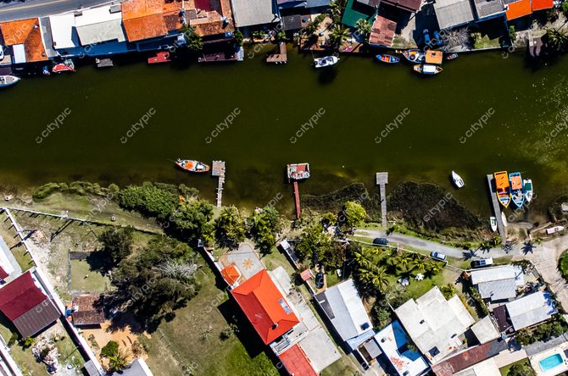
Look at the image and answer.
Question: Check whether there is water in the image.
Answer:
Yes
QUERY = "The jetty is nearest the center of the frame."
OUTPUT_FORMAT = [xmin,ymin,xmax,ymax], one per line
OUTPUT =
[288,163,309,217]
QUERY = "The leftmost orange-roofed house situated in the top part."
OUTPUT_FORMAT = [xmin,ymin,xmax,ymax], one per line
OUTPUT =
[0,18,54,71]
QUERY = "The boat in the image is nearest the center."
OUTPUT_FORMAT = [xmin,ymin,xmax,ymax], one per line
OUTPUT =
[176,160,212,173]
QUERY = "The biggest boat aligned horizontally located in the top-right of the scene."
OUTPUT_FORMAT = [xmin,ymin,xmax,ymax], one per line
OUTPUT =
[402,49,444,64]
